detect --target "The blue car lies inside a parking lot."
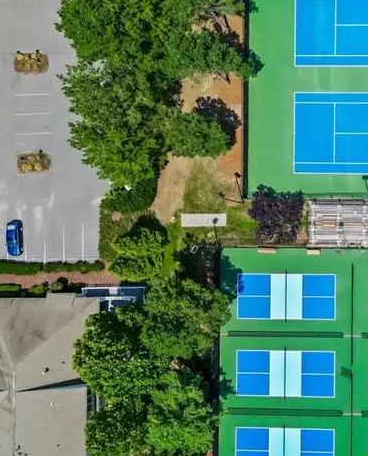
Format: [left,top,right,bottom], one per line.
[7,221,27,256]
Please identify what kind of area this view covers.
sports ground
